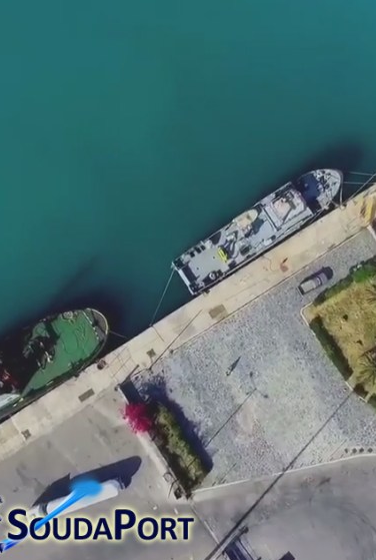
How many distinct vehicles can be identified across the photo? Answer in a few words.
2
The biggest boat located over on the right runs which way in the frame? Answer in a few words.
on a diagonal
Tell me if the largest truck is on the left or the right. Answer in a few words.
left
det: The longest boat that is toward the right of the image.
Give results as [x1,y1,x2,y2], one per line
[171,165,343,295]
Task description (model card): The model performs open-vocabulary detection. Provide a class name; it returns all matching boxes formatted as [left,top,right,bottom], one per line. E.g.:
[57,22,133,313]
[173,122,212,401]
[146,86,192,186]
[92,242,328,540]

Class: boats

[171,165,343,295]
[0,306,113,424]
[231,209,257,227]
